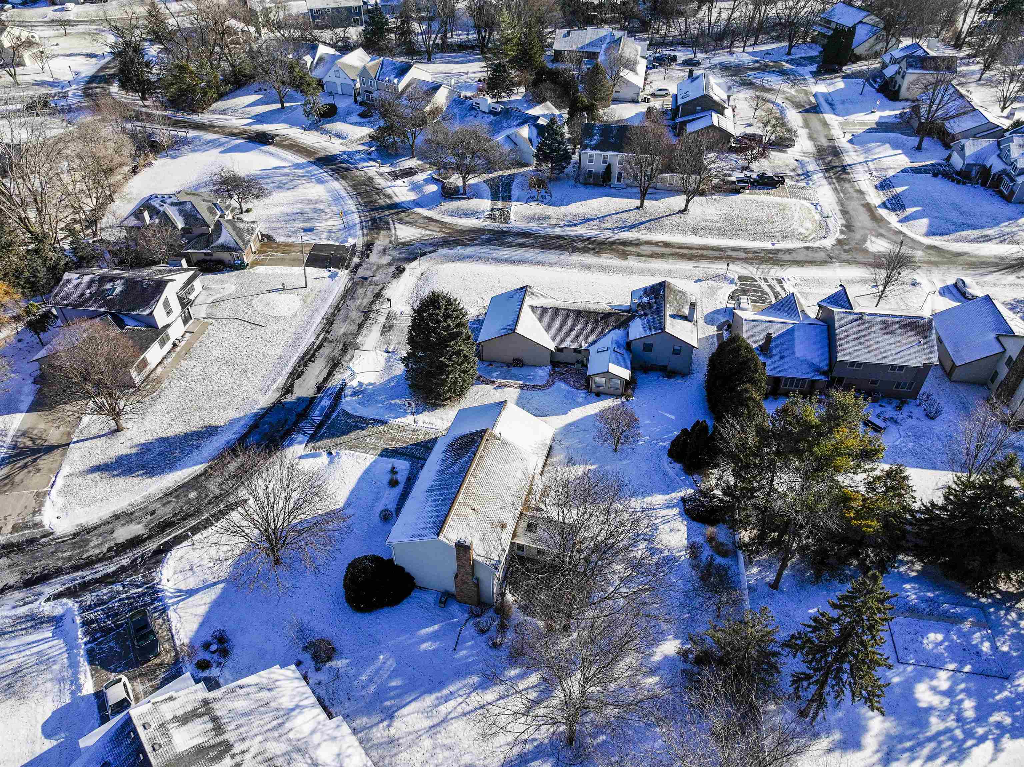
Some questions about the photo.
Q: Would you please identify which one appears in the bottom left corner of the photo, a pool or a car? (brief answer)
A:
car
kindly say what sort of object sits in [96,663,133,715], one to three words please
car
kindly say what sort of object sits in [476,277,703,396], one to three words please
house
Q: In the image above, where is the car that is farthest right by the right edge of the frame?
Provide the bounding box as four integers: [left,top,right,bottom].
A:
[954,274,983,299]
